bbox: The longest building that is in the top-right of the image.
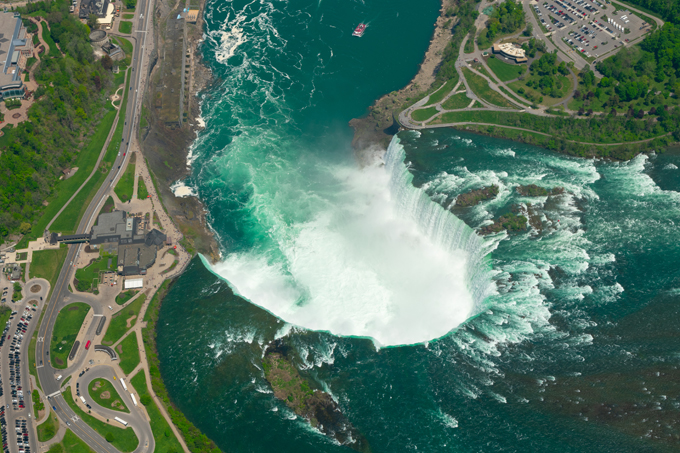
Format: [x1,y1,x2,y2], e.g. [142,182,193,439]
[493,43,528,64]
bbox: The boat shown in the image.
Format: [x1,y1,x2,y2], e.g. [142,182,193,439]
[353,21,367,36]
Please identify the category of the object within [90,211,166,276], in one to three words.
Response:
building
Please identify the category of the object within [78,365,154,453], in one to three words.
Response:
roundabout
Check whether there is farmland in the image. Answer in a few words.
No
